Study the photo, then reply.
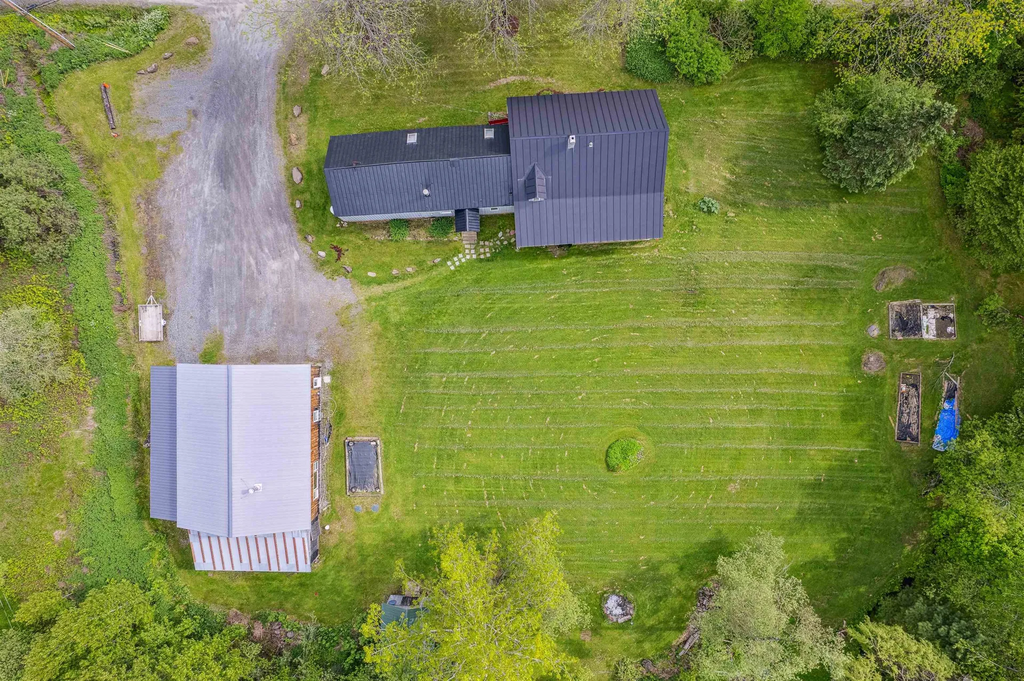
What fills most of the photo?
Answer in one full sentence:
For the most part, this view shows grass.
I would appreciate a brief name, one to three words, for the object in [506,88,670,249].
house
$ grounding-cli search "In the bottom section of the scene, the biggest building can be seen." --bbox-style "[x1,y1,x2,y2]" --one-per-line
[177,364,327,539]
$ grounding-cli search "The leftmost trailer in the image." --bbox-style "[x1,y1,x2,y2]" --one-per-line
[134,290,168,341]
